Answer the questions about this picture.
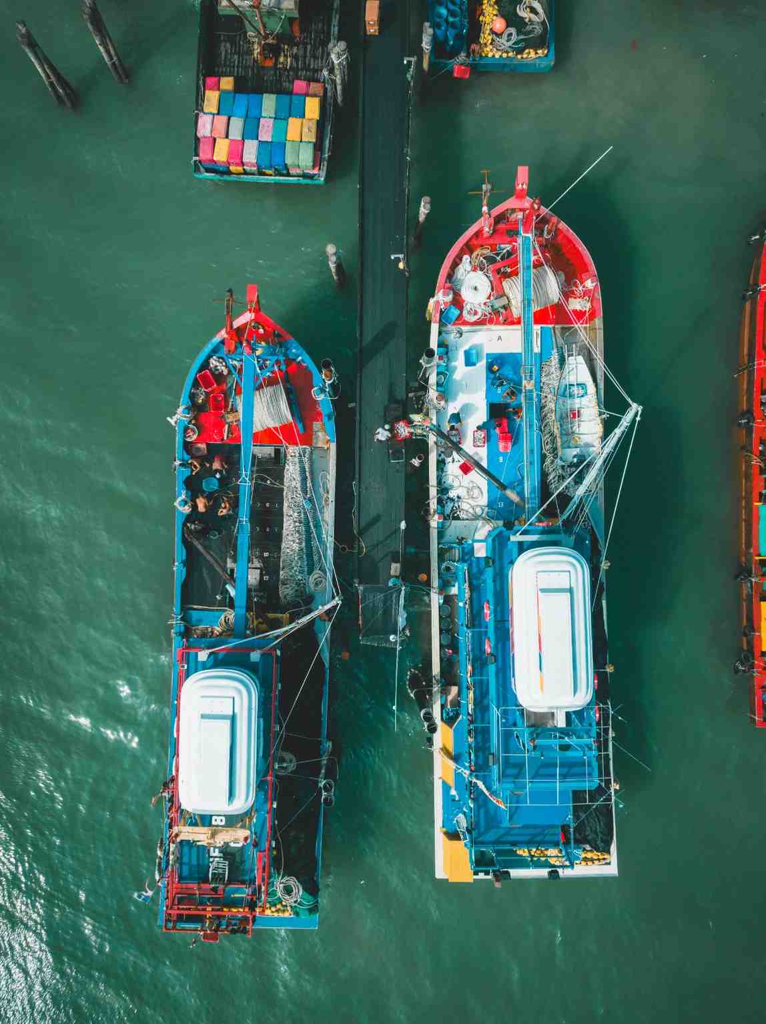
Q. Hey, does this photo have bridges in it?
No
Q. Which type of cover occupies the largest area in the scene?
water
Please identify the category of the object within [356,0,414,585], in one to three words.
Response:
pier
